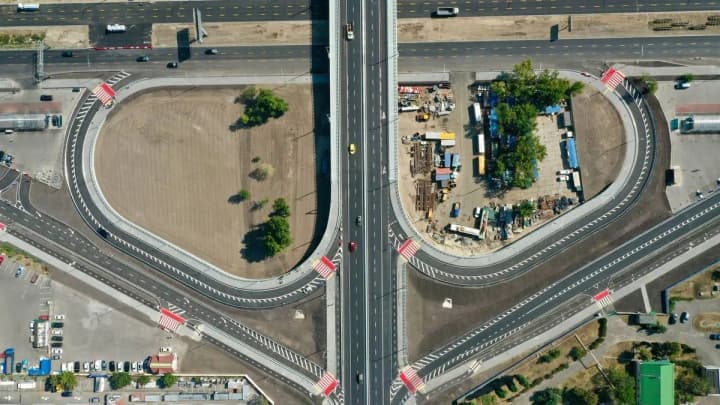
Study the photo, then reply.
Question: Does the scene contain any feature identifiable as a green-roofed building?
Yes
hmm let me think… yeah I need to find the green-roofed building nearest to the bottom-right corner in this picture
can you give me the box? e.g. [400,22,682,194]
[634,360,674,405]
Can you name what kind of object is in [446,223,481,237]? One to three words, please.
vehicle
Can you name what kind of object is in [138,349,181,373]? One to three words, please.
building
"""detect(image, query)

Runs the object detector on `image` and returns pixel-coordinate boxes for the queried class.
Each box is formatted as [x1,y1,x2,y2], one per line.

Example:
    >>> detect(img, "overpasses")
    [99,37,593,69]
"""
[326,0,417,405]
